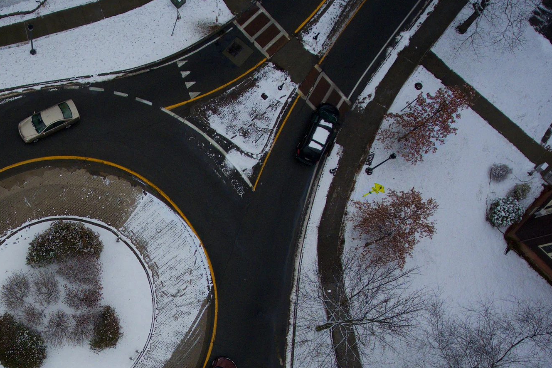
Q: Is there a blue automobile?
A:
No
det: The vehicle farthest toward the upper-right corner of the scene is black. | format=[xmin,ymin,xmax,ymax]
[294,100,340,166]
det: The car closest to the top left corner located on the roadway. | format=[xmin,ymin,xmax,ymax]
[19,99,80,141]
